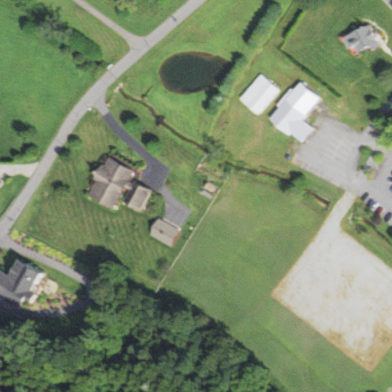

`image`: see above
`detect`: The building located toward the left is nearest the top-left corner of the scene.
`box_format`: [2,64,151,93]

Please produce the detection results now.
[89,160,136,211]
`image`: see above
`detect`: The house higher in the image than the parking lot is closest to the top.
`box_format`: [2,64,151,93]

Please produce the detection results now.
[338,25,382,57]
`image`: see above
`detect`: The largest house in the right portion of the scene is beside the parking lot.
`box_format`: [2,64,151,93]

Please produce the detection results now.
[270,82,322,144]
